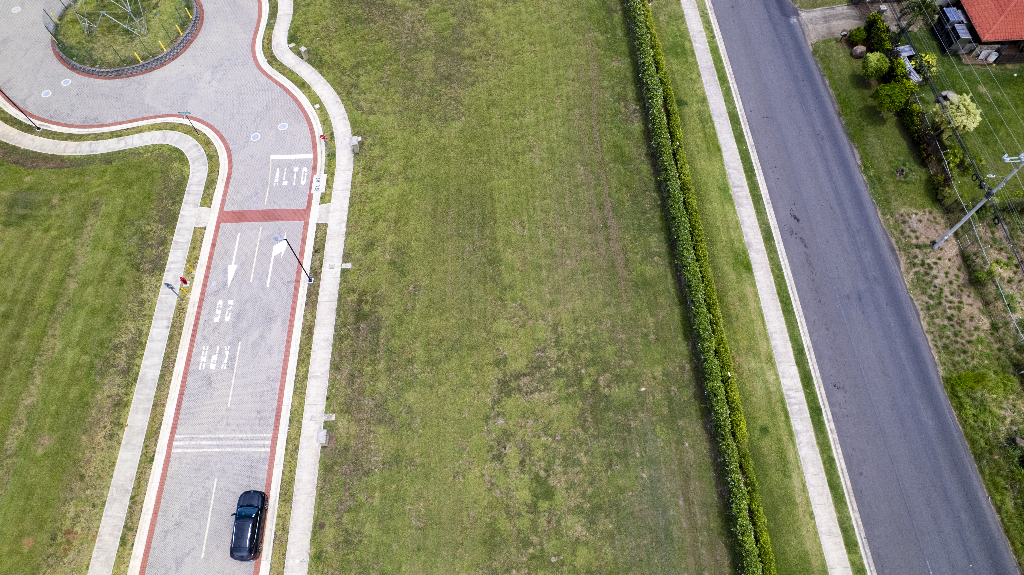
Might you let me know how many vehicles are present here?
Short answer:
1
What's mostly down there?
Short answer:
grass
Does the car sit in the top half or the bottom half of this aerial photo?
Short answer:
bottom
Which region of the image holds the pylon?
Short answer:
top left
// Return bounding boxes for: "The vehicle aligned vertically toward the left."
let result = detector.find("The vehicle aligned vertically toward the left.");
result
[228,491,269,565]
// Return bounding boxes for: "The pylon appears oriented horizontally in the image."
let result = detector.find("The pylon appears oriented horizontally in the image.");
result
[66,0,149,37]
